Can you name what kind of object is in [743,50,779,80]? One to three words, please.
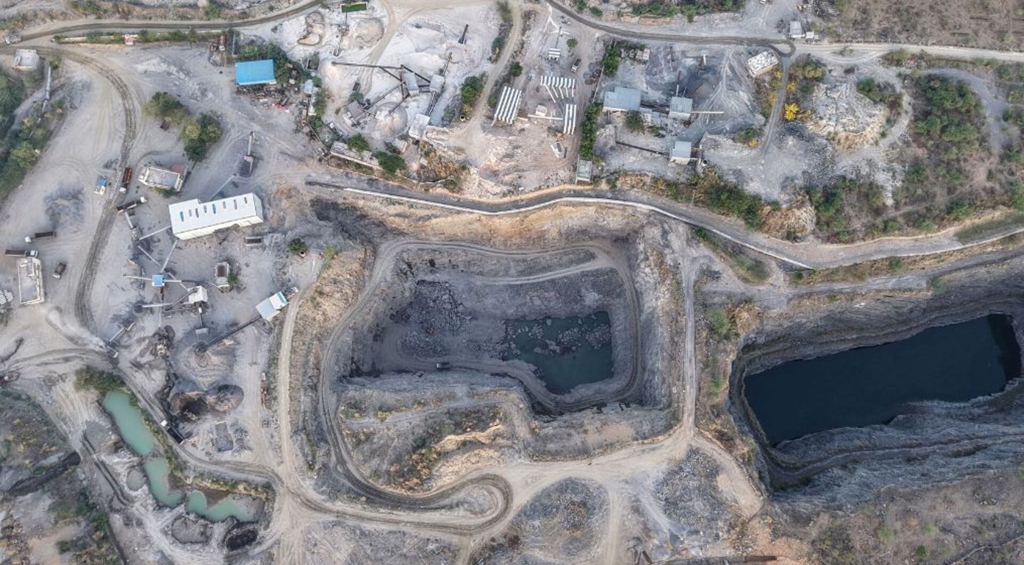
house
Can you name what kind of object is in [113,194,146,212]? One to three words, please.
vehicle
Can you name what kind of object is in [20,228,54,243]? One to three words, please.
vehicle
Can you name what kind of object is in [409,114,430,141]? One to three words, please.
shed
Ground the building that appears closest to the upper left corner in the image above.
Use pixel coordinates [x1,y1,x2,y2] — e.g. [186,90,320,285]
[14,49,44,72]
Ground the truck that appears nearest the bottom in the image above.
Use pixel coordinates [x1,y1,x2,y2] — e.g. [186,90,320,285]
[156,417,185,446]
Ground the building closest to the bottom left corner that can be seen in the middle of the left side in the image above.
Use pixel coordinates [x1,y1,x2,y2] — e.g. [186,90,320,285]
[18,258,52,307]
